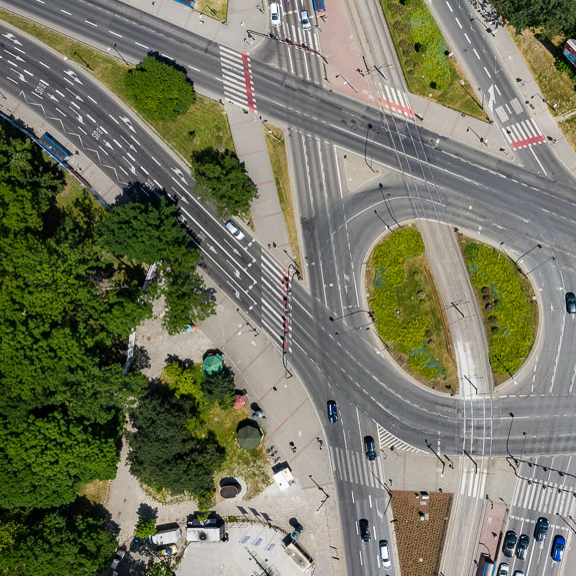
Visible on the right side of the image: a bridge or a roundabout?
roundabout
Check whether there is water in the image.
No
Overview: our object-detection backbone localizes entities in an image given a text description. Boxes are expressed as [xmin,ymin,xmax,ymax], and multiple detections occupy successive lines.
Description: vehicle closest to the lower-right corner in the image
[552,533,566,561]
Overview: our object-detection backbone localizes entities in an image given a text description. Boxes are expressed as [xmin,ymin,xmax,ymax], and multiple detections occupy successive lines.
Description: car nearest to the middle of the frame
[225,221,246,241]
